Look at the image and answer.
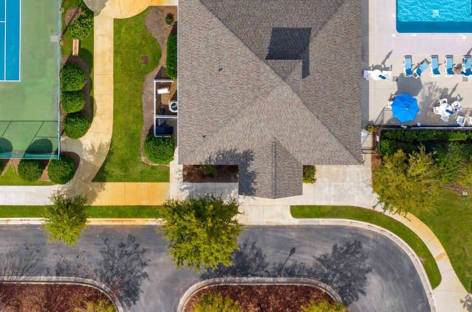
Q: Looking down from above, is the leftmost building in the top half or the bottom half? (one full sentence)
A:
Seen from above, the leftmost building lies in the top half of the view.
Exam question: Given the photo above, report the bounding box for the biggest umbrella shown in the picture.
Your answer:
[392,93,421,123]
